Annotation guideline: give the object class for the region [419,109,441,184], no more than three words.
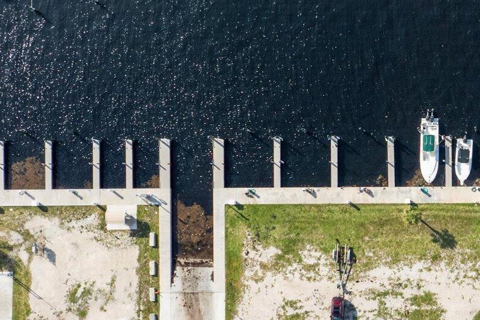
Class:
boat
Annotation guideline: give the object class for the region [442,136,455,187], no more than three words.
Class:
pier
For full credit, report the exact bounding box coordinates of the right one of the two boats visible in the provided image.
[454,133,473,184]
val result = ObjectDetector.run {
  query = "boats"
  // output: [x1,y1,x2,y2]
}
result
[454,133,473,184]
[419,109,441,184]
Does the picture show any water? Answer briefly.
Yes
